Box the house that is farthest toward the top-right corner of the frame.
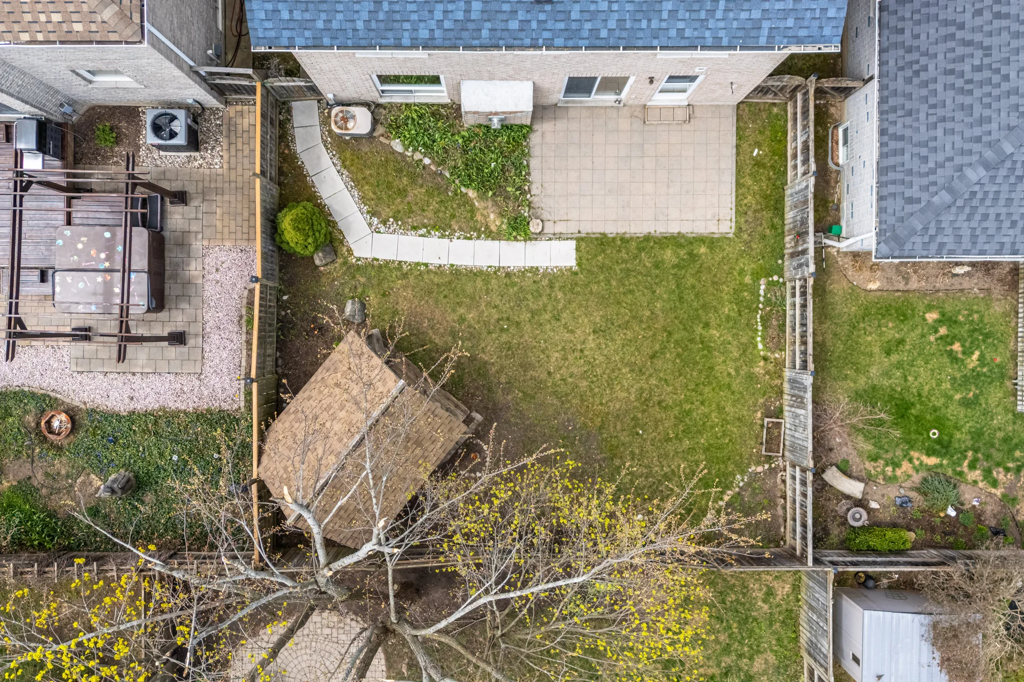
[843,0,1024,260]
